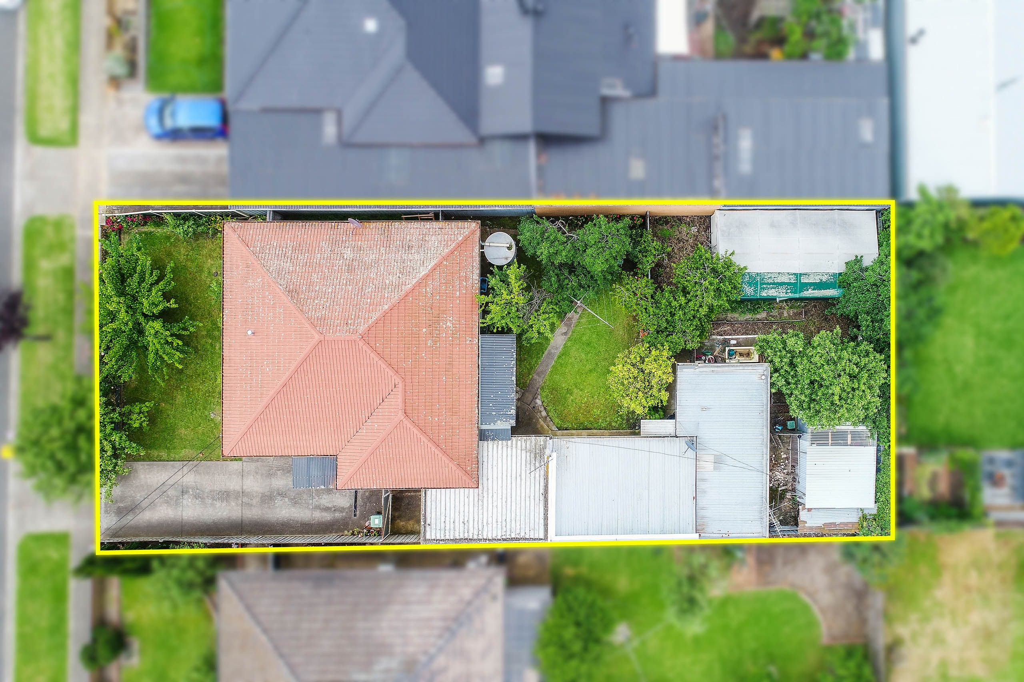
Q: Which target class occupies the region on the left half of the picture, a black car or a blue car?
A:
blue car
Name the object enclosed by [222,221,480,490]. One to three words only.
house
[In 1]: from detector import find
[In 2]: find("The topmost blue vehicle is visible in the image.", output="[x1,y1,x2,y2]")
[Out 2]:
[146,91,228,139]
